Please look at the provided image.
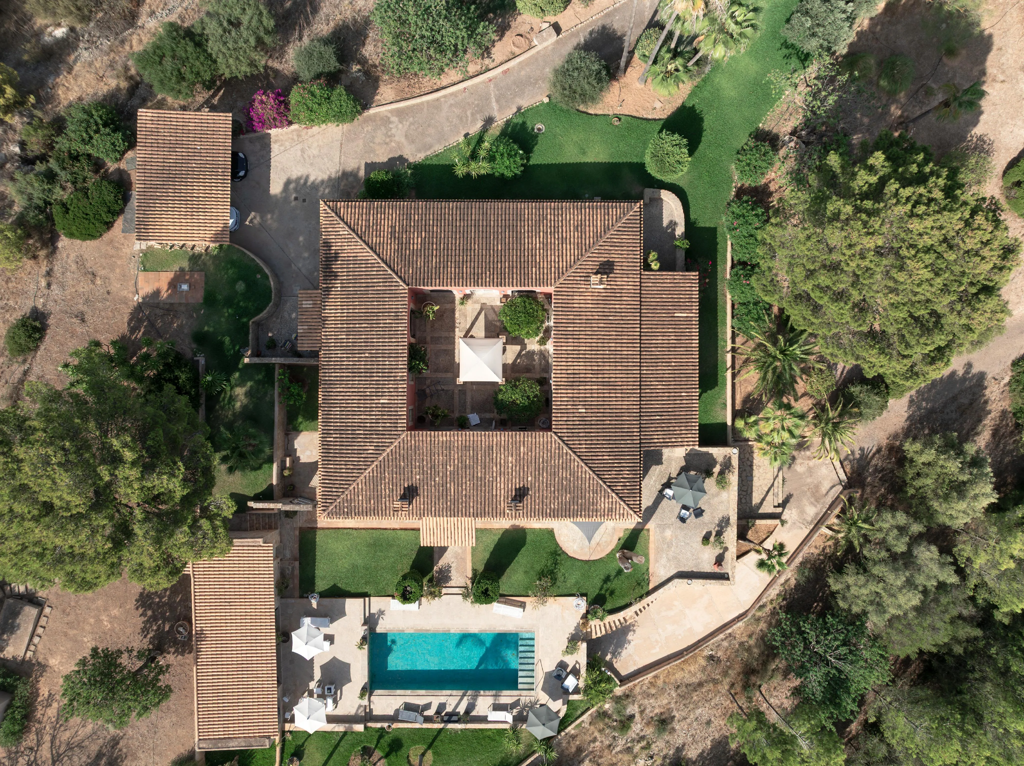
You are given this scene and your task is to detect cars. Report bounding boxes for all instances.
[230,207,241,233]
[231,152,250,182]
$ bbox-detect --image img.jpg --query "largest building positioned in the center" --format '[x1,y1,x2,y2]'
[296,199,701,548]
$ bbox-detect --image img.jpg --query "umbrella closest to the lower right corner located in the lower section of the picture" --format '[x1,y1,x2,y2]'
[671,472,707,507]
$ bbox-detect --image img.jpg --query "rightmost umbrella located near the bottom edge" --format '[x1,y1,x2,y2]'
[526,704,561,741]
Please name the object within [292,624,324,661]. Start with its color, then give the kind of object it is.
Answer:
white umbrella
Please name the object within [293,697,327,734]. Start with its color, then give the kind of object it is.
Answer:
white umbrella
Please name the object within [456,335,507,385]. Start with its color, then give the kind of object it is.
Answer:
white gazebo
